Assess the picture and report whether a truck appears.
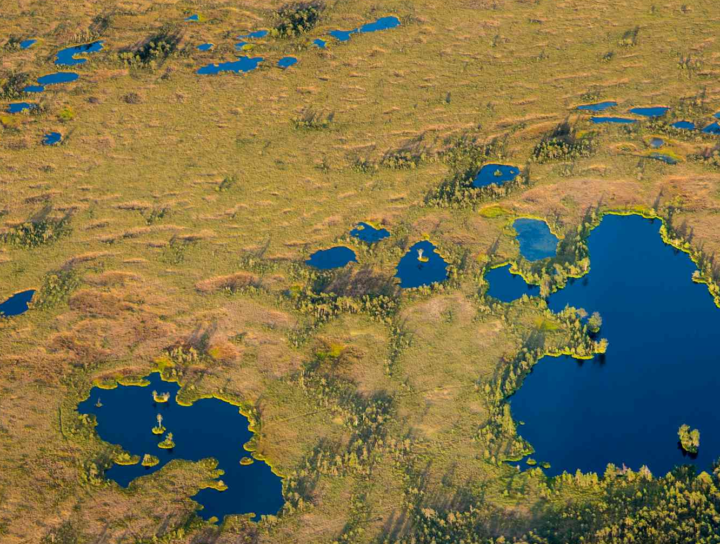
No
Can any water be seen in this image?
Yes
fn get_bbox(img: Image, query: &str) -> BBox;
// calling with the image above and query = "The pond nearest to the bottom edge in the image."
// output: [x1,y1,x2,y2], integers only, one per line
[78,373,284,526]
